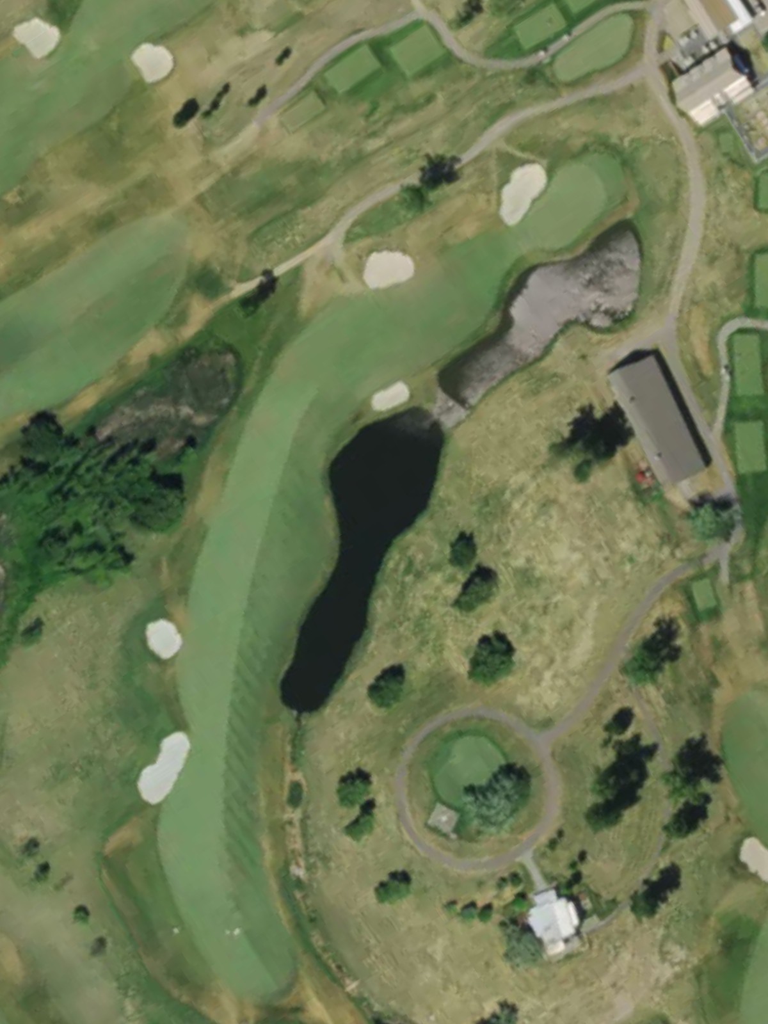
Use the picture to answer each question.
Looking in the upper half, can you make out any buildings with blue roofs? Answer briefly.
No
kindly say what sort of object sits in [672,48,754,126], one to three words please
building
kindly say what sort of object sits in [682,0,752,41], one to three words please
building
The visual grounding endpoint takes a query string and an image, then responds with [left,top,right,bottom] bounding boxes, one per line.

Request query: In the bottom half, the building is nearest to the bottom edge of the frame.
[528,890,579,955]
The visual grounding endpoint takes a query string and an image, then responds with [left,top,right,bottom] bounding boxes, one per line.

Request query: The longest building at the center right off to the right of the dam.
[609,355,706,484]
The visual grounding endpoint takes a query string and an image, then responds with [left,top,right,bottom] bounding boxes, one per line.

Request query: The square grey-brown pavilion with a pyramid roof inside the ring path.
[427,803,459,832]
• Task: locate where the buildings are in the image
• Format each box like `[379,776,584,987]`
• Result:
[609,355,706,484]
[427,803,459,832]
[672,48,754,126]
[528,890,579,955]
[682,0,752,41]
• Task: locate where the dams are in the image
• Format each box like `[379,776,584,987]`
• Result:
[433,385,471,429]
